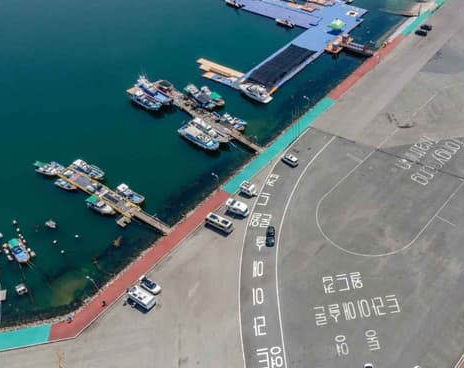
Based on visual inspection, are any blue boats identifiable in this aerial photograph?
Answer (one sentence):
Yes, the image includes a blue boat.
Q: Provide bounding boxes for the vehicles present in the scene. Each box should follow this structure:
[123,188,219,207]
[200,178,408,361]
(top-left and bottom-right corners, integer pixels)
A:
[265,227,275,247]
[224,197,254,221]
[140,278,163,296]
[129,286,158,311]
[280,152,301,168]
[415,29,428,37]
[420,23,433,32]
[365,362,375,368]
[239,180,257,198]
[203,211,238,235]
